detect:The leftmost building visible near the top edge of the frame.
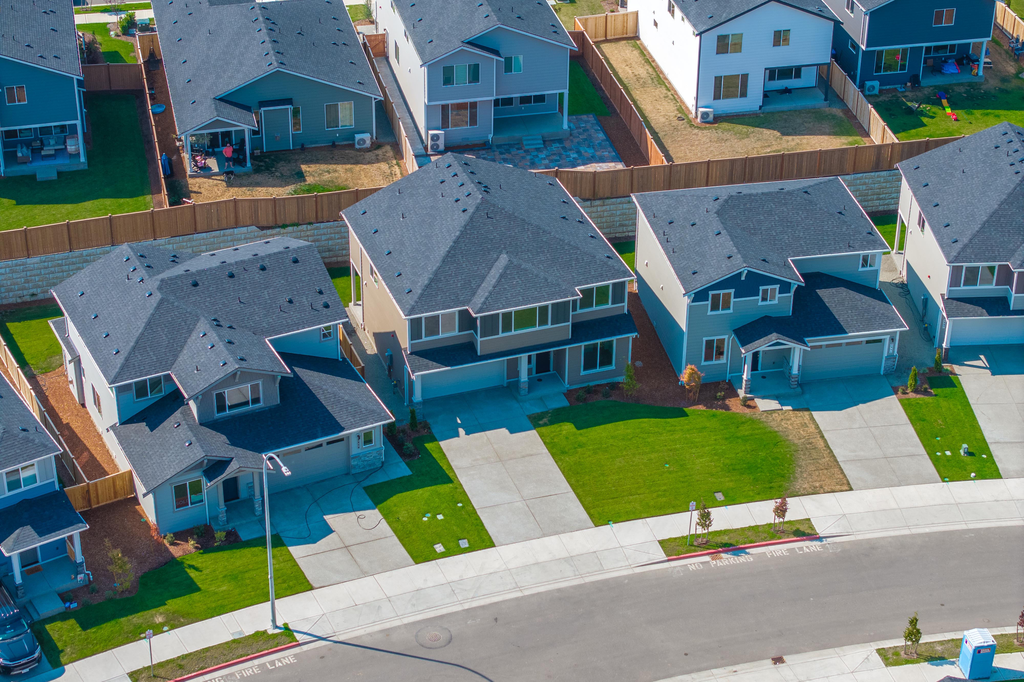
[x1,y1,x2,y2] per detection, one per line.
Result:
[0,0,87,179]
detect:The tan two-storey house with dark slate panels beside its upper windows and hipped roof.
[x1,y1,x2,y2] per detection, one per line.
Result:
[339,152,641,420]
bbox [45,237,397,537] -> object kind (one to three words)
house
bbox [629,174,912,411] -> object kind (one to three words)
house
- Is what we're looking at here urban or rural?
urban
